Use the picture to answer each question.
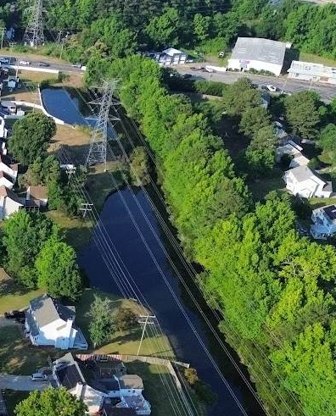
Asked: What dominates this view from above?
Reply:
trees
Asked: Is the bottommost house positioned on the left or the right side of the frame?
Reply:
left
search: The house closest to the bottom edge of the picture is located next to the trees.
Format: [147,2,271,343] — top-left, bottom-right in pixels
[51,351,153,416]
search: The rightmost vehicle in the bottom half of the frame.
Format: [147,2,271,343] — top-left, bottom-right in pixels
[27,369,55,382]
